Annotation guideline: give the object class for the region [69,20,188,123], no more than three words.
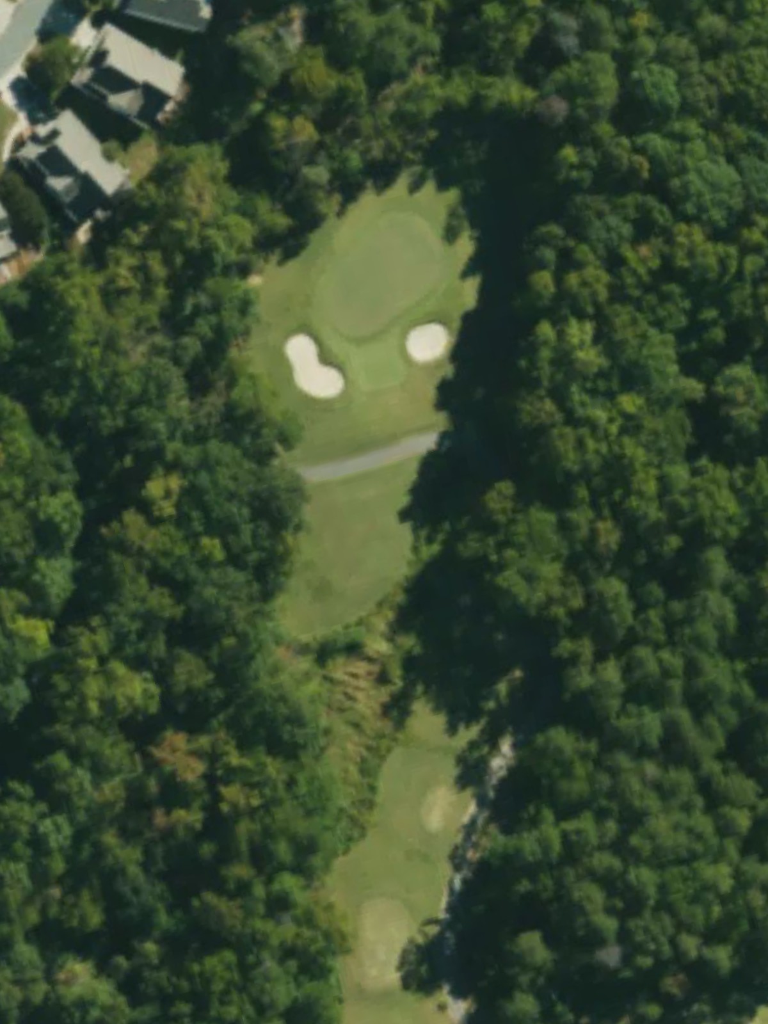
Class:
house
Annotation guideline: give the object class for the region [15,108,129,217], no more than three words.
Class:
house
